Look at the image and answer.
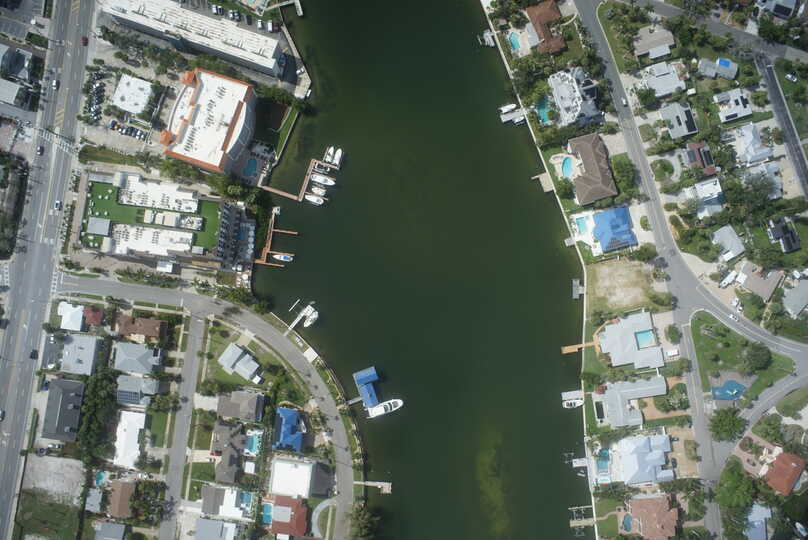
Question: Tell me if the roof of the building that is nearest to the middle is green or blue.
blue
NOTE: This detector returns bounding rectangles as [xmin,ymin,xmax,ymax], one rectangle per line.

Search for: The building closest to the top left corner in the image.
[0,43,37,83]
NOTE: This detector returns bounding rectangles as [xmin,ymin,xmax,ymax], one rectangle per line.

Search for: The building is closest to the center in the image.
[351,367,379,407]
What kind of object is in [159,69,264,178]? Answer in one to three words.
building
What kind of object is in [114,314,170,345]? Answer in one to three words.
house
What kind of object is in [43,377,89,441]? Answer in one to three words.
building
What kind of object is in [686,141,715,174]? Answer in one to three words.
house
